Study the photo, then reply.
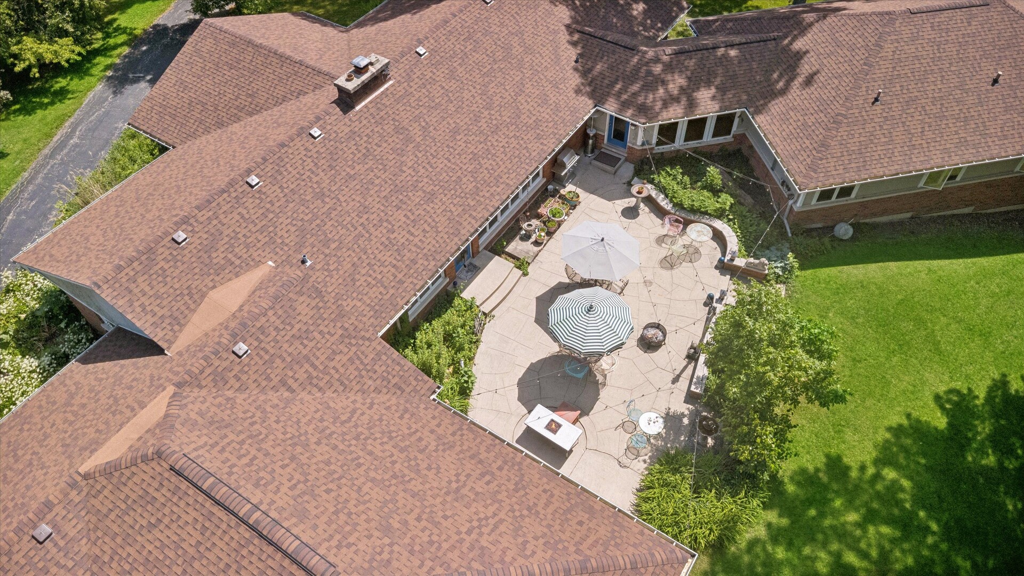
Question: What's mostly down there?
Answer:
buildings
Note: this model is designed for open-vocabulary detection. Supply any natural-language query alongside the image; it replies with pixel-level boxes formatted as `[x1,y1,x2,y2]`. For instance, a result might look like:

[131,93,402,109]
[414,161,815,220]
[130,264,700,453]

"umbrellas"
[550,287,633,365]
[560,221,640,283]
